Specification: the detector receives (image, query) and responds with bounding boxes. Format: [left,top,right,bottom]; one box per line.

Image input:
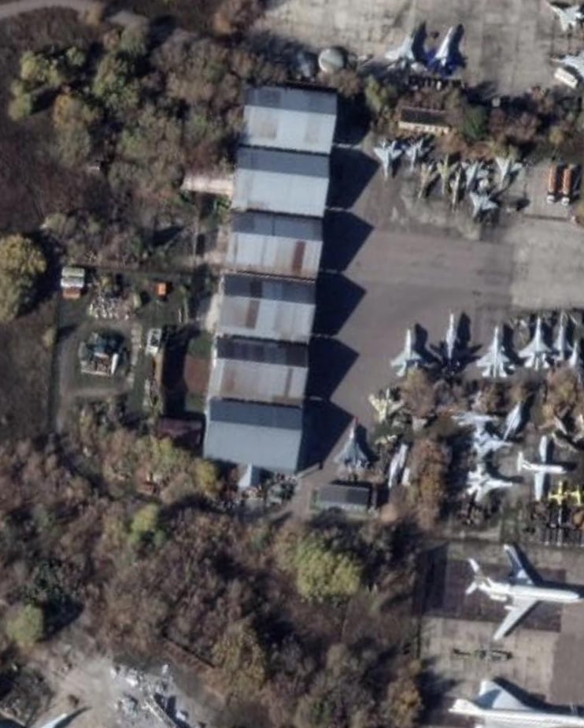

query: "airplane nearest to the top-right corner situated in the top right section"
[550,1,584,31]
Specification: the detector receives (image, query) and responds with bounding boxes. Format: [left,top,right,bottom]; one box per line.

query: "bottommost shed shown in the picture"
[317,484,371,512]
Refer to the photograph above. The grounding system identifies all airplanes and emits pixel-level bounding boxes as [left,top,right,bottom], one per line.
[556,55,584,78]
[389,328,425,380]
[371,139,399,182]
[465,155,490,190]
[371,387,401,419]
[463,467,510,504]
[494,155,519,189]
[569,485,584,507]
[519,439,566,501]
[502,403,519,439]
[552,314,573,363]
[435,155,458,194]
[336,422,371,476]
[468,431,511,461]
[477,327,513,381]
[451,165,467,211]
[460,544,582,638]
[387,29,421,81]
[432,312,469,375]
[519,320,555,372]
[473,187,497,218]
[427,25,462,81]
[449,680,584,728]
[402,138,428,171]
[415,160,435,198]
[550,1,584,31]
[549,485,569,509]
[546,415,570,438]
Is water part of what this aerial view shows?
No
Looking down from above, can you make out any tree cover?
Yes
